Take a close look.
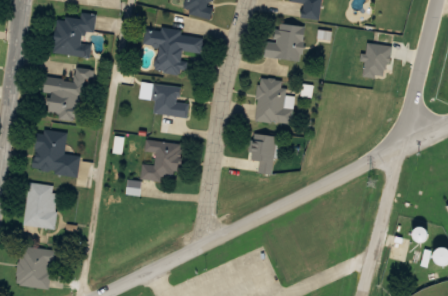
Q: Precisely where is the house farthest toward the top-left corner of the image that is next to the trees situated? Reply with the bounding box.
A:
[52,15,96,58]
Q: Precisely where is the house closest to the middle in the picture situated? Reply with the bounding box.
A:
[250,134,275,175]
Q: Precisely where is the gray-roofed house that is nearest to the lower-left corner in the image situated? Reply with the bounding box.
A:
[16,246,52,290]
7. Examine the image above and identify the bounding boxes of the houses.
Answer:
[44,68,96,123]
[25,184,57,230]
[250,134,275,175]
[140,140,182,183]
[264,24,306,62]
[142,25,202,74]
[292,0,322,20]
[52,15,96,58]
[362,42,393,80]
[181,0,211,21]
[256,78,292,124]
[34,128,81,177]
[16,246,52,290]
